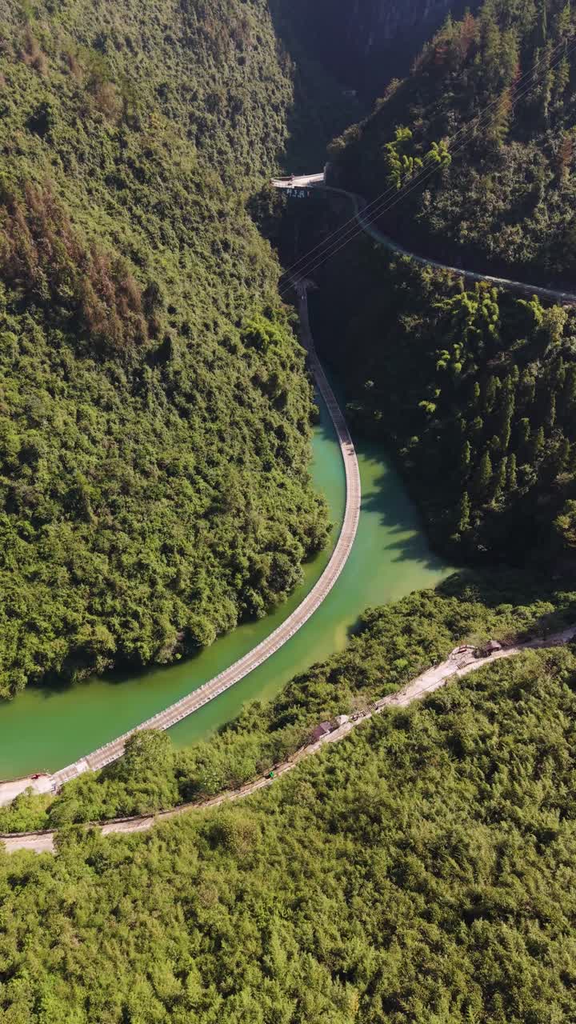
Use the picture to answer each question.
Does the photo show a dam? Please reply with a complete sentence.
Yes, the photo shows a dam.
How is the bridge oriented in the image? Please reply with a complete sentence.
The bridge has been laid out diagonally relative to the frame.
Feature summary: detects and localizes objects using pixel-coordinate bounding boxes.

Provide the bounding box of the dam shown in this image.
[270,183,333,267]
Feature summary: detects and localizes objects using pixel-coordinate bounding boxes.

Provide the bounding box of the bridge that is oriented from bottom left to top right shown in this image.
[52,289,361,789]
